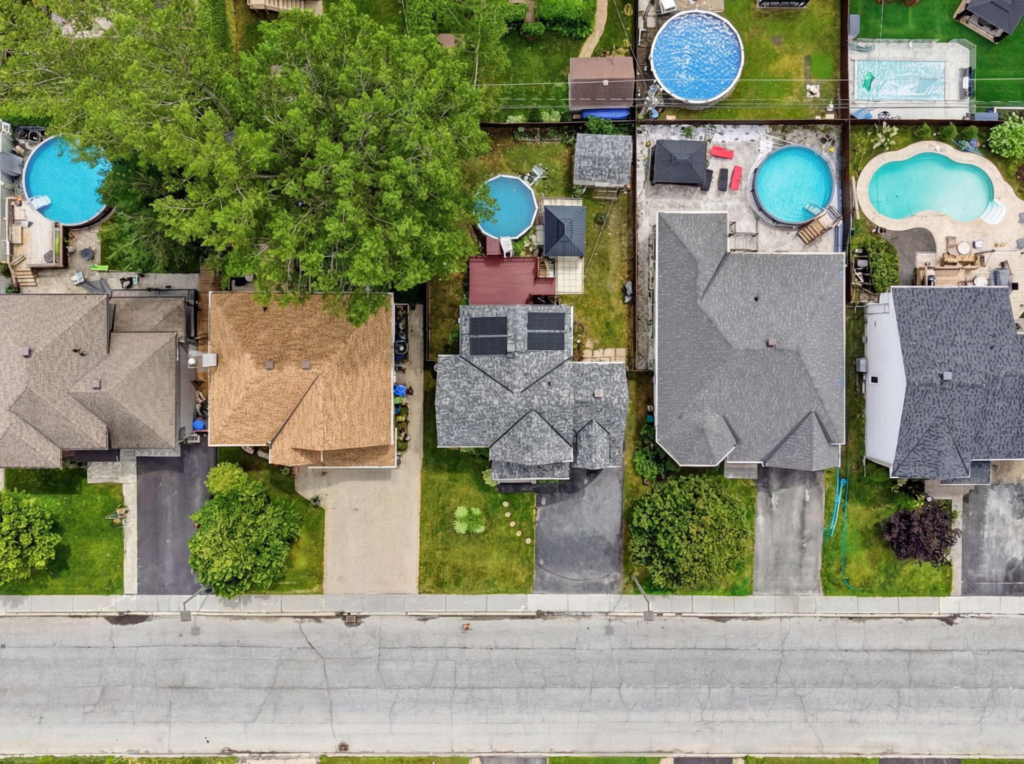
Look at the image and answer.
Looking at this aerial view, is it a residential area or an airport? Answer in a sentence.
The picture captures a residential area.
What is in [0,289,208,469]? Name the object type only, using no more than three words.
house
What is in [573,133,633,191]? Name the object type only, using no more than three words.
shed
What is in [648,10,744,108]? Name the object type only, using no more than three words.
swimming pool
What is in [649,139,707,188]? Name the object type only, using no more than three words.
gazebo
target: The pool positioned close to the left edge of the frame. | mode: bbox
[22,137,122,227]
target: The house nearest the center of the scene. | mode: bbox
[435,304,629,484]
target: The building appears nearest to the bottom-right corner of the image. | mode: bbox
[858,285,1024,485]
